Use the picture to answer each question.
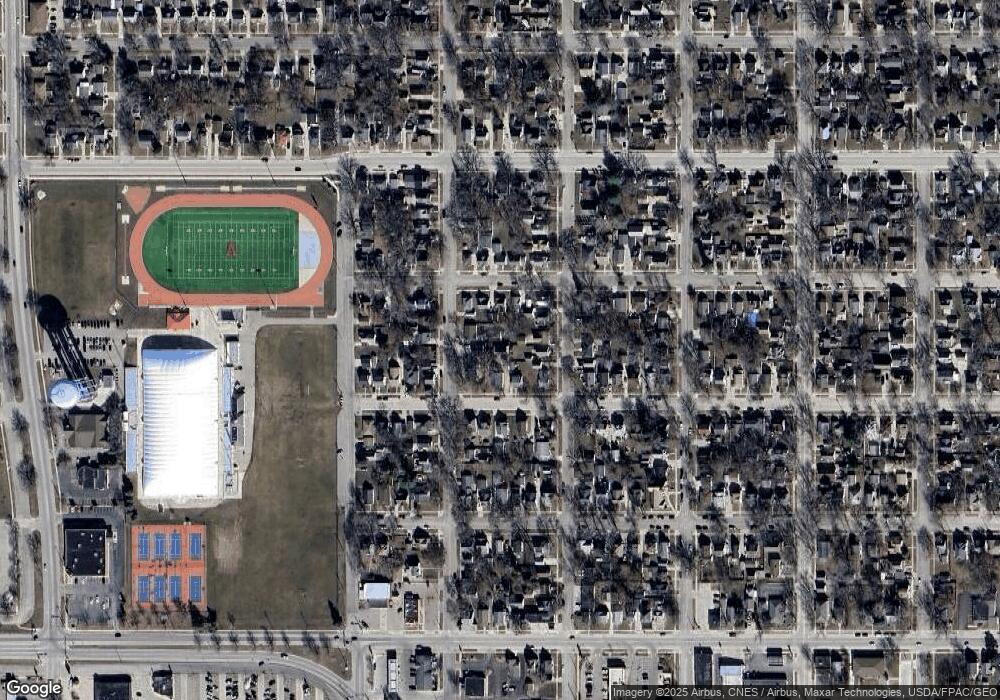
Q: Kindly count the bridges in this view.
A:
0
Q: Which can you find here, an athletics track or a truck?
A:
athletics track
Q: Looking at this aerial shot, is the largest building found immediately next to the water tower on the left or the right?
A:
left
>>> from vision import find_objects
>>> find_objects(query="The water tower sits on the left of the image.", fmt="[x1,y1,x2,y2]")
[51,377,98,409]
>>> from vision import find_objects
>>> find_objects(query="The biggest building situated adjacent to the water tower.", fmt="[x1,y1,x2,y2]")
[67,415,108,447]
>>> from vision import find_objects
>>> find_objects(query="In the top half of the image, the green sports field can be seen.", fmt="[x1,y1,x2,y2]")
[145,207,299,293]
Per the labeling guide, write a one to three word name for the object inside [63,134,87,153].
house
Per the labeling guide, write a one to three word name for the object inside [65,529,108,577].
building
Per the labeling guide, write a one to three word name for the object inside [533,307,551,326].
house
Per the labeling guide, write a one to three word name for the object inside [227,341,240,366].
building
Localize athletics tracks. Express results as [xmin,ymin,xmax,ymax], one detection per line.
[130,193,333,310]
